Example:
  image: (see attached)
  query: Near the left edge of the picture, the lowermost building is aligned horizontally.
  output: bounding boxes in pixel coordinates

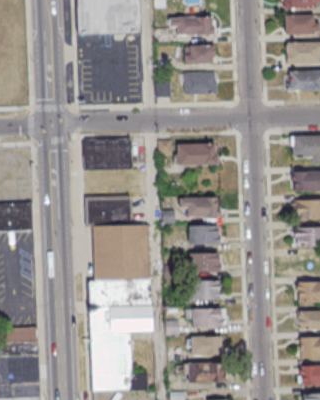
[0,384,40,398]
